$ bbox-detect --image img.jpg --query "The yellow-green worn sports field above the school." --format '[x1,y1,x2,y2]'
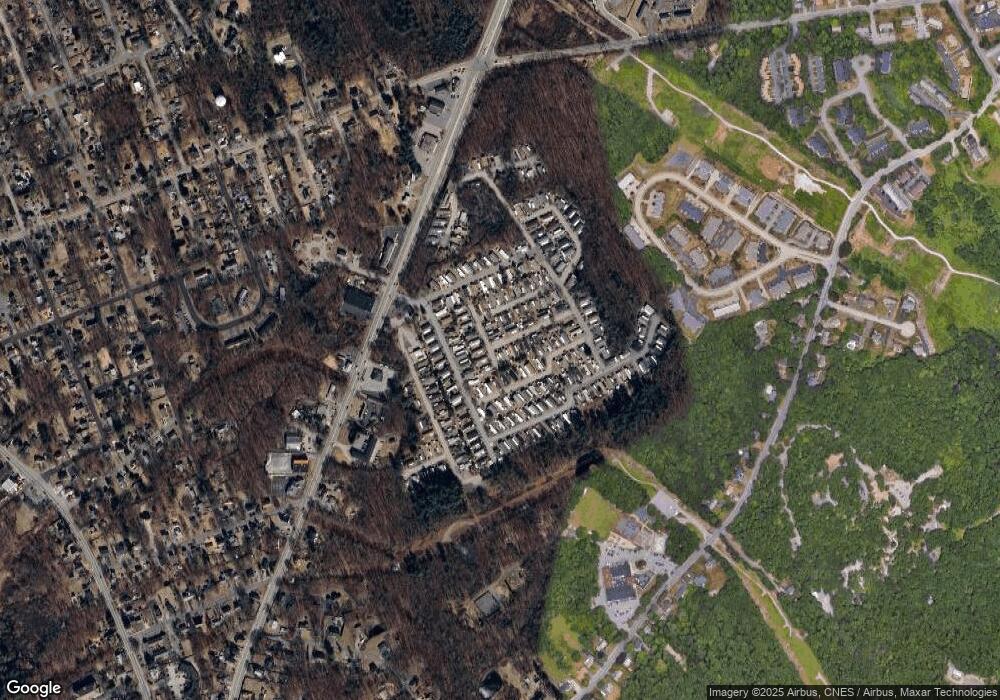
[571,488,618,538]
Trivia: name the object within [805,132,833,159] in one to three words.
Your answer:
building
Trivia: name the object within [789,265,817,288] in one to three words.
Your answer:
house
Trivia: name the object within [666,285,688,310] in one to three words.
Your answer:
building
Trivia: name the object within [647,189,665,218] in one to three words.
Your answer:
house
